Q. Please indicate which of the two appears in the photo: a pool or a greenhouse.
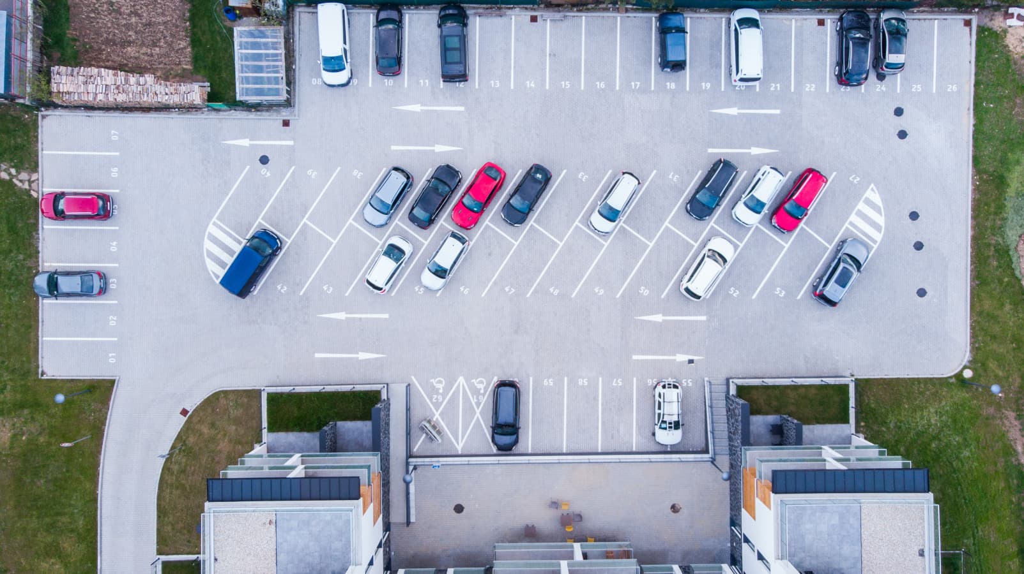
greenhouse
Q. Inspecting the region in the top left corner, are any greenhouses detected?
Yes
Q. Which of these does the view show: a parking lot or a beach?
parking lot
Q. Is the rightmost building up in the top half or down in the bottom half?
bottom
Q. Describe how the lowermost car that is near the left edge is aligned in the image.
from side to side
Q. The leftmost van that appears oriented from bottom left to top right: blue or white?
blue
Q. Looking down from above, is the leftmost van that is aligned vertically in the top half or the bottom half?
top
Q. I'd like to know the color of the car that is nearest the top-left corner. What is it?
pink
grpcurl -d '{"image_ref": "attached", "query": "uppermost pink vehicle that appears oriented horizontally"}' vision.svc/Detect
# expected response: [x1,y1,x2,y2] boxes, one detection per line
[42,189,114,222]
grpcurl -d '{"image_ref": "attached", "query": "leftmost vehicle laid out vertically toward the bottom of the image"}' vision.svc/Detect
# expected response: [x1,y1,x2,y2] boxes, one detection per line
[490,380,522,450]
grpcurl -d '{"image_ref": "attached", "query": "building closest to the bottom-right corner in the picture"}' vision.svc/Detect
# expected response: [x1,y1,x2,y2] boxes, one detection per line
[727,428,939,574]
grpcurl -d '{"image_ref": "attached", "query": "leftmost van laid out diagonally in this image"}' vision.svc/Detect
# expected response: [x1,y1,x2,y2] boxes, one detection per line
[214,227,283,301]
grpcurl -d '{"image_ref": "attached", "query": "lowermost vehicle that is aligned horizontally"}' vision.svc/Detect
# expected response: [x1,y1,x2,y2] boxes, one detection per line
[36,269,108,299]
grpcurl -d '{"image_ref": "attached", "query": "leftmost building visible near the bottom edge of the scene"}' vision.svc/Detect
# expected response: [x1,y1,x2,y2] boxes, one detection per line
[200,435,390,574]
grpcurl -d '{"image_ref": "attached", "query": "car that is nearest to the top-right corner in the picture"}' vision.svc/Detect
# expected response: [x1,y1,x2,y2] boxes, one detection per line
[872,9,911,76]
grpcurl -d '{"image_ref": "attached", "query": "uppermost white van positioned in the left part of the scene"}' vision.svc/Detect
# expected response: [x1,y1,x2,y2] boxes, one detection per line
[314,1,352,85]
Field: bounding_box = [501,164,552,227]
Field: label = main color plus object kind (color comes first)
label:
blue car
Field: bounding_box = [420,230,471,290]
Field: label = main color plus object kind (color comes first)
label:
white car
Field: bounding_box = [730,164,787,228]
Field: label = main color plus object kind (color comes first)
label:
white car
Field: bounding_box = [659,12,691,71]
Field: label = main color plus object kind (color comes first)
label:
blue car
